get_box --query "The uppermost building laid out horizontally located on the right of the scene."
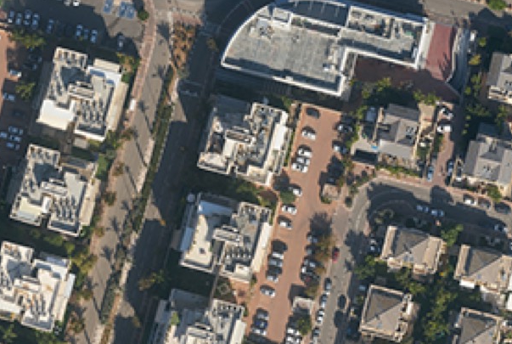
[222,0,428,100]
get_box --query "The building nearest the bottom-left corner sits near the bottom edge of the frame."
[0,241,84,339]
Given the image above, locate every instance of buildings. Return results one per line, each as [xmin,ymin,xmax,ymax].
[461,124,512,195]
[369,103,423,172]
[187,93,293,194]
[10,144,109,244]
[147,289,254,344]
[457,243,512,299]
[222,0,428,100]
[380,225,446,281]
[0,241,84,339]
[35,46,135,148]
[293,295,315,314]
[322,184,341,201]
[449,307,505,344]
[485,58,512,109]
[361,286,418,344]
[172,193,279,292]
